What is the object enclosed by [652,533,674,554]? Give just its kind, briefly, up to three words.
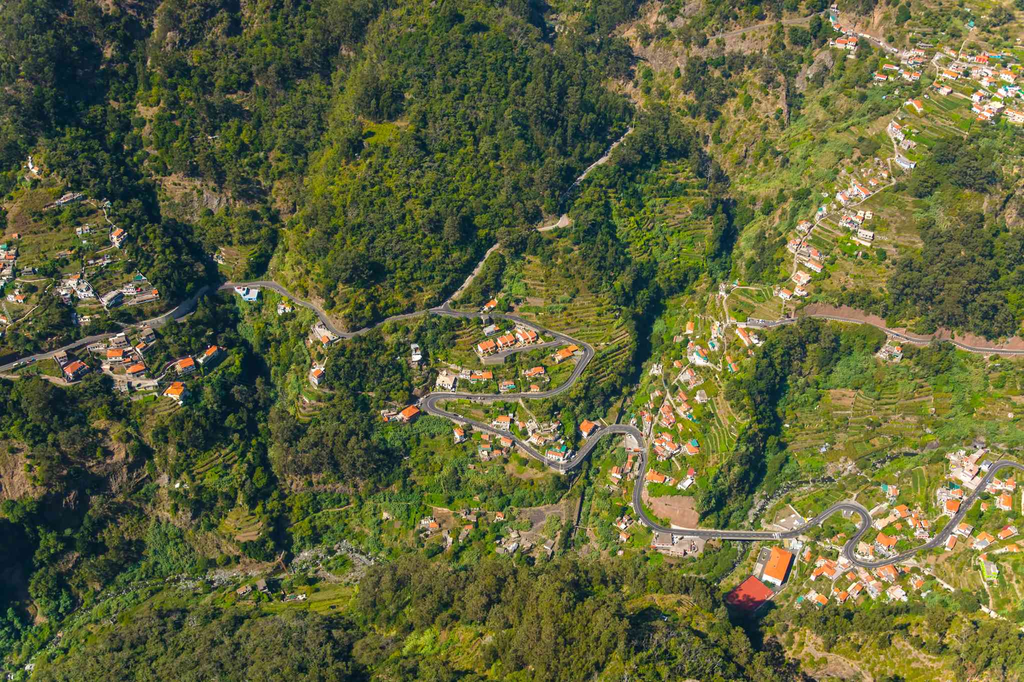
house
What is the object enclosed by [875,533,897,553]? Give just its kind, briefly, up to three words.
house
